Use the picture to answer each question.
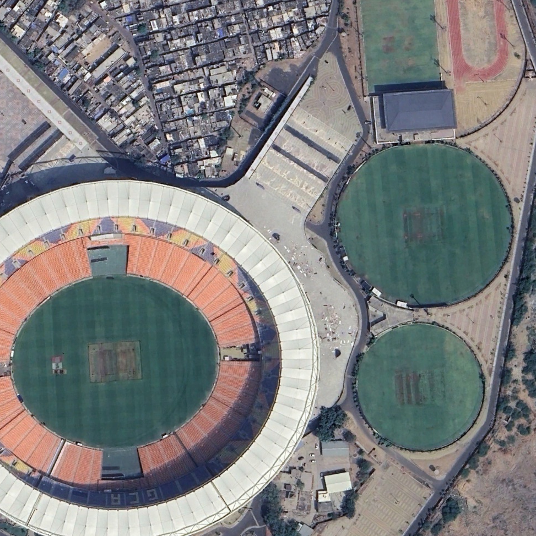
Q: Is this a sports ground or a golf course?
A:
sports ground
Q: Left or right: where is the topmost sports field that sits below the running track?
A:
right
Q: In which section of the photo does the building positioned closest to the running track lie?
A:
top right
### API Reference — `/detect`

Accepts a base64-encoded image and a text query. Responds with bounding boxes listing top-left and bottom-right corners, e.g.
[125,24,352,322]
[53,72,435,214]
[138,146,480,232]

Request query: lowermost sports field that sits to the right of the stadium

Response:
[355,321,486,451]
